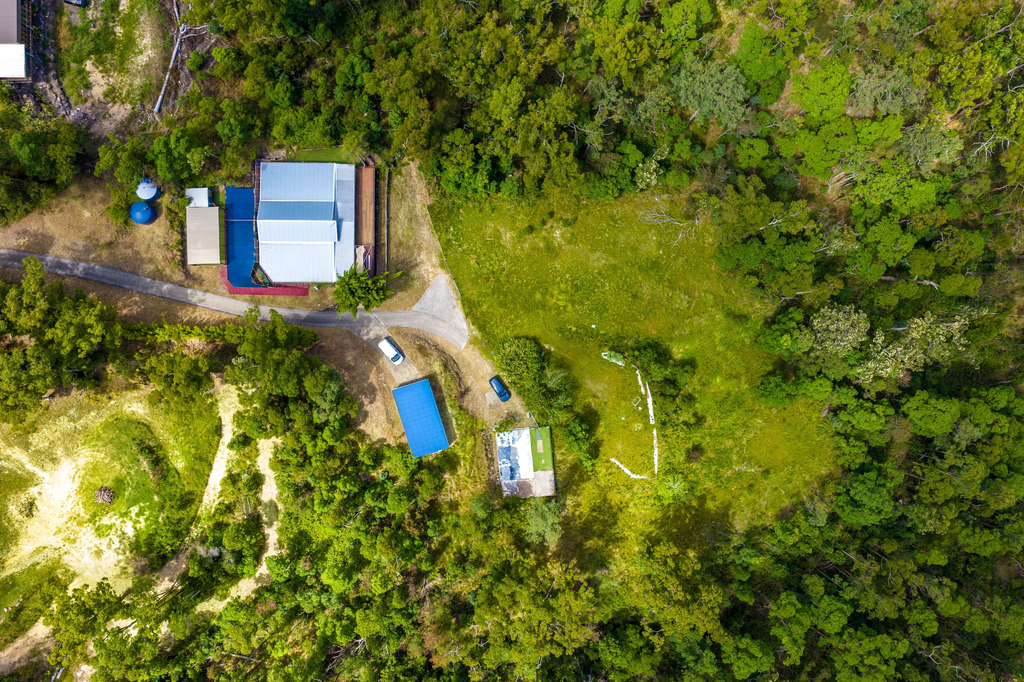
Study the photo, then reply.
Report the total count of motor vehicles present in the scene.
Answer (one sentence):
There are 2 motor vehicles in the image.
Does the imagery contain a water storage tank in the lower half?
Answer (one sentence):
No, there is no water storage tank in the lower half.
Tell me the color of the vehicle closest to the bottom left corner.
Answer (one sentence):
The vehicle closest to the bottom left corner looks white in the image.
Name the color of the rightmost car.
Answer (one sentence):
The color of the rightmost car is blue.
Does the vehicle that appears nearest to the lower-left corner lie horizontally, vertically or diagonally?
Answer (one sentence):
From this overhead view, the vehicle that appears nearest to the lower-left corner appears to run diagonally.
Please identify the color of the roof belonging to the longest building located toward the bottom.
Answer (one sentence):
The color of the roof on the longest building located toward the bottom is blue.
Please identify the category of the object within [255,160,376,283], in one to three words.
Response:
house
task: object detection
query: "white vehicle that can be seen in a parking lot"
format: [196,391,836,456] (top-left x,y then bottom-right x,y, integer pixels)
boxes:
[378,337,405,367]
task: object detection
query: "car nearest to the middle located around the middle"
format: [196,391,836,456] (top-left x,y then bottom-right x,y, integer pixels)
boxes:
[487,375,511,403]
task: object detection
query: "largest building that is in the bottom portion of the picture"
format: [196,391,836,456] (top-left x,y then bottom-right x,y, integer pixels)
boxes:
[392,379,450,459]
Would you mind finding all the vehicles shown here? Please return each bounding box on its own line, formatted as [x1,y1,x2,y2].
[487,375,511,403]
[378,337,405,367]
